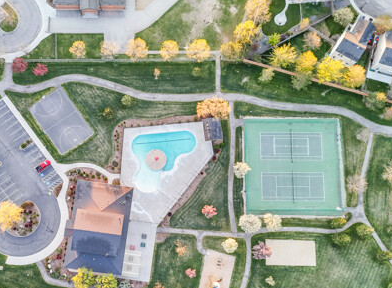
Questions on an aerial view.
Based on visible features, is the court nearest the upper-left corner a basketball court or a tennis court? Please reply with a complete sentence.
Specifically, the court nearest the upper-left corner is a basketball court.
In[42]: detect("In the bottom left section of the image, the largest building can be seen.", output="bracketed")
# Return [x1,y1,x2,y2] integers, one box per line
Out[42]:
[64,180,134,276]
